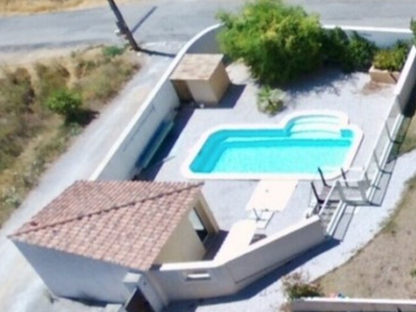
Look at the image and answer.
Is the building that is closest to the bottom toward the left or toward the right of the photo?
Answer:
left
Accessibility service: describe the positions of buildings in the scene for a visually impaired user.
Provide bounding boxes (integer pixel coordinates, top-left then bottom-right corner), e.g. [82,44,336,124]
[3,172,222,307]
[161,46,231,105]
